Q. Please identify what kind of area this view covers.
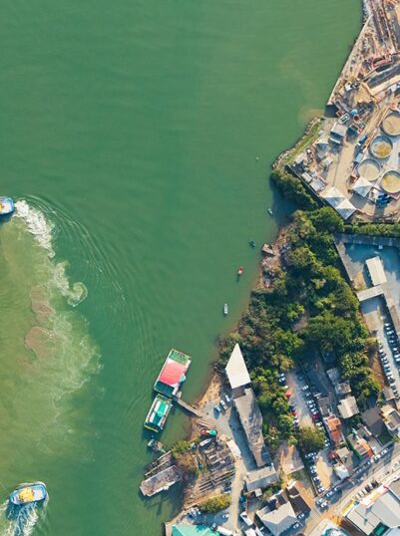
port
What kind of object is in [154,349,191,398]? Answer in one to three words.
ship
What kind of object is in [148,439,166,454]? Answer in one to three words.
boat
